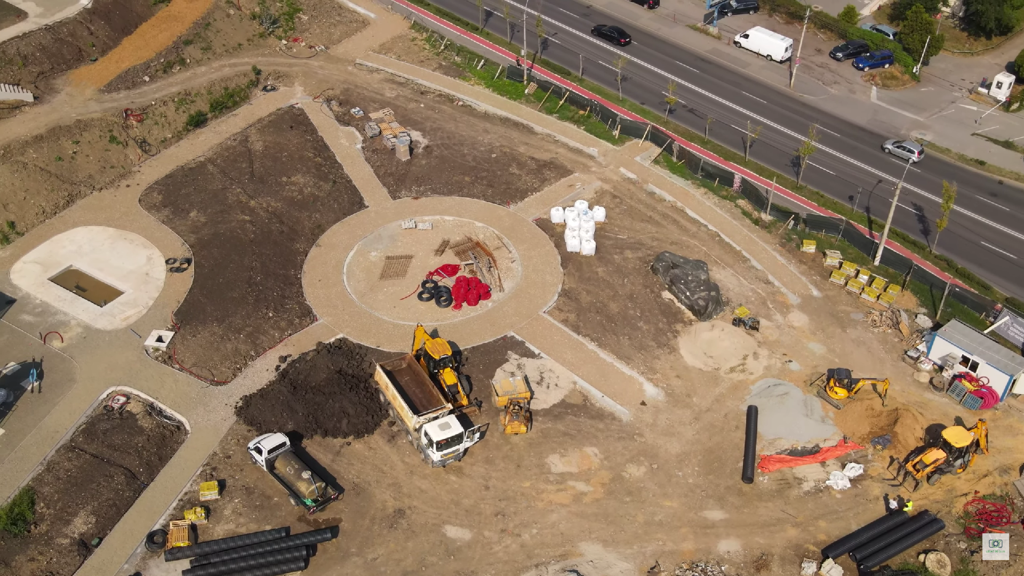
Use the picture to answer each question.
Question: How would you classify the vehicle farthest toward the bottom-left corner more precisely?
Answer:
truck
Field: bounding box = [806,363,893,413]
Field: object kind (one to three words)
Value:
work vehicle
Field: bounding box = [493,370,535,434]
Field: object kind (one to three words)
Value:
truck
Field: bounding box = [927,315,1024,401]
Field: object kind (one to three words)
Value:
building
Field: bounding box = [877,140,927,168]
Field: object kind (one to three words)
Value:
car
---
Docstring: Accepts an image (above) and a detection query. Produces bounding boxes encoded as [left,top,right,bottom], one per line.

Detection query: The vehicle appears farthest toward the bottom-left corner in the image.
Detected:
[246,432,335,518]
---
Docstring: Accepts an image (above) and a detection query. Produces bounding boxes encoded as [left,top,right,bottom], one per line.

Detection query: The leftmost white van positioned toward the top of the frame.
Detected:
[730,25,793,63]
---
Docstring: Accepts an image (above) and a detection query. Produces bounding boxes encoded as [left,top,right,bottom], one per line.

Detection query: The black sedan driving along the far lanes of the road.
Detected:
[585,25,626,47]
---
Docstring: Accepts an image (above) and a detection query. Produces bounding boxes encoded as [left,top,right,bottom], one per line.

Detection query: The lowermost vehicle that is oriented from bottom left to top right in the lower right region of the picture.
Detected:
[892,417,991,493]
